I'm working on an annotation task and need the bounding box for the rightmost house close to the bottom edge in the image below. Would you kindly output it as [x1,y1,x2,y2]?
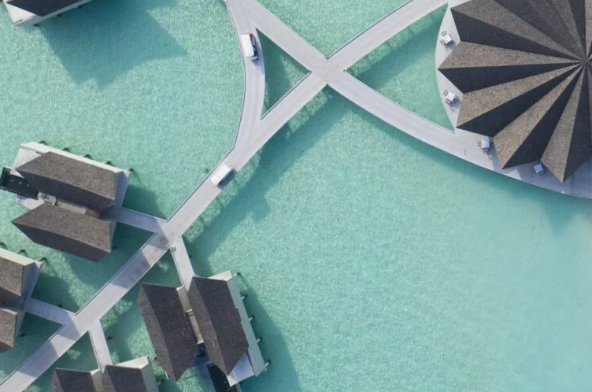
[138,263,275,392]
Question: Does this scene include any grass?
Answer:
No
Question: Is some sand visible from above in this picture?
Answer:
Yes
